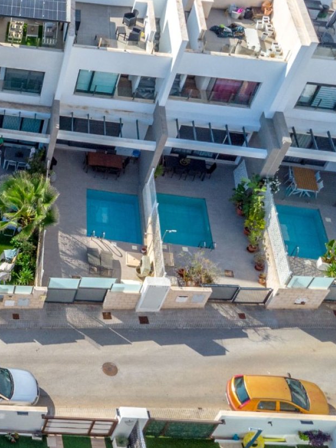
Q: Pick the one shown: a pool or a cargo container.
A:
pool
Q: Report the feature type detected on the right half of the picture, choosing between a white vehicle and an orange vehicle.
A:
orange vehicle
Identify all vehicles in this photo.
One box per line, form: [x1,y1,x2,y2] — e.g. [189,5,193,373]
[223,371,332,412]
[0,368,40,407]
